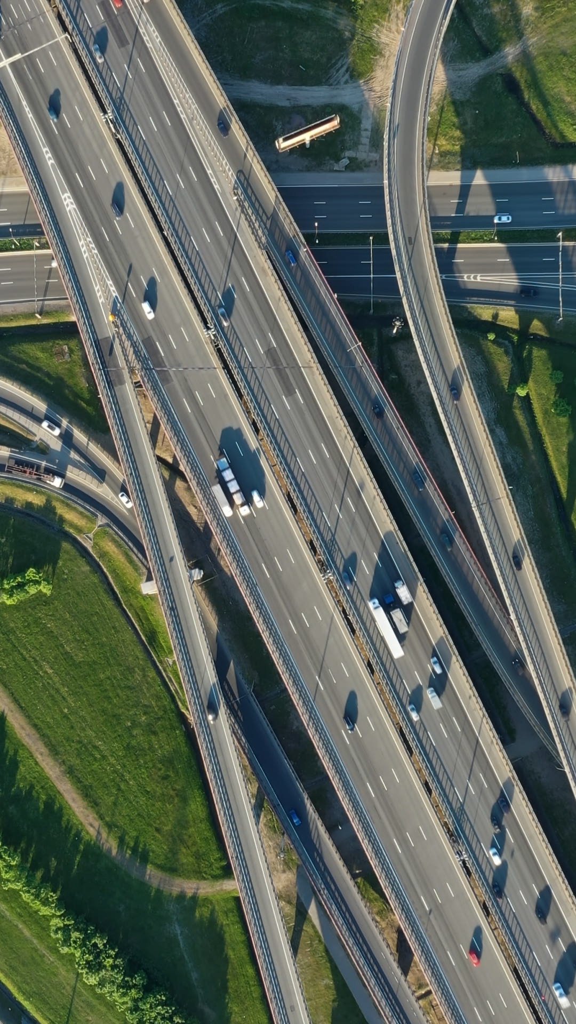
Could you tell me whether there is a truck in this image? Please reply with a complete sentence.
Yes, a truck can be made out from above.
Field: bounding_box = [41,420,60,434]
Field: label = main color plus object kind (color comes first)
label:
white car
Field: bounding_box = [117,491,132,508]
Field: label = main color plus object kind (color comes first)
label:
white car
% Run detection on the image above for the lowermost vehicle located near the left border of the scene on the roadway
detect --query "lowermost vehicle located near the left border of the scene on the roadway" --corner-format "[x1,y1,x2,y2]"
[2,461,65,487]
